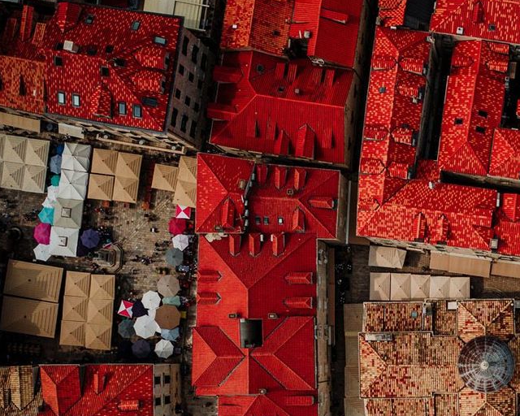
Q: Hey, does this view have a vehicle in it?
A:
No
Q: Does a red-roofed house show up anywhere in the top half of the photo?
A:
Yes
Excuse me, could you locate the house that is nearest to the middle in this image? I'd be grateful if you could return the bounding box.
[194,151,352,245]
